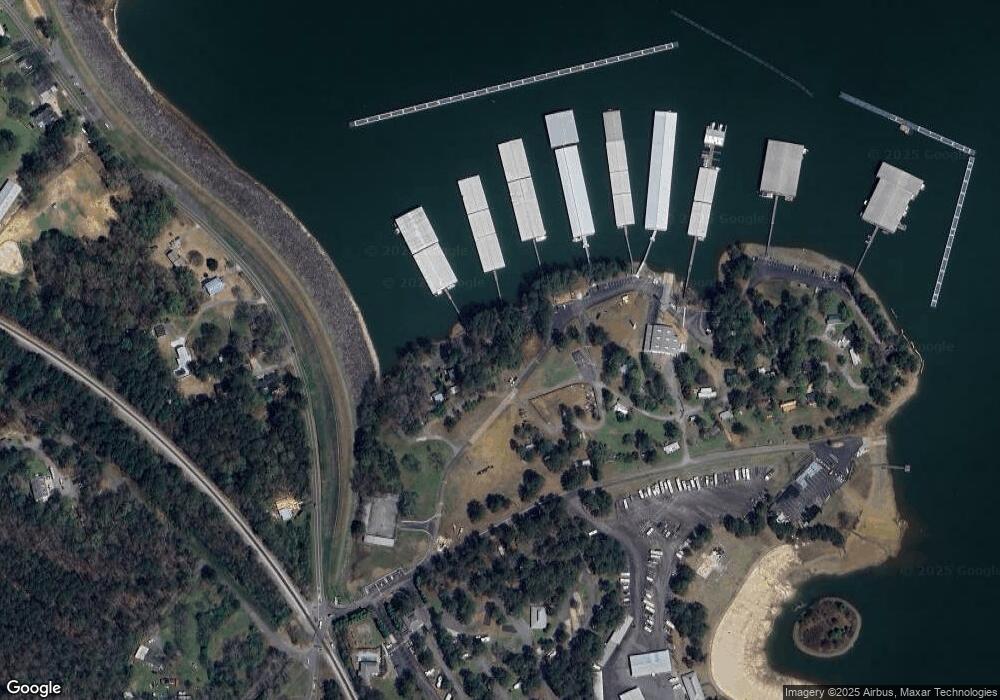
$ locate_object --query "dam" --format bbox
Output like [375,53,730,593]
[26,0,385,597]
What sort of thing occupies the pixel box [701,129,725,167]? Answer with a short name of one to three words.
pier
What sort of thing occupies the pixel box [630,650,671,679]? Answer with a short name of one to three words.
building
